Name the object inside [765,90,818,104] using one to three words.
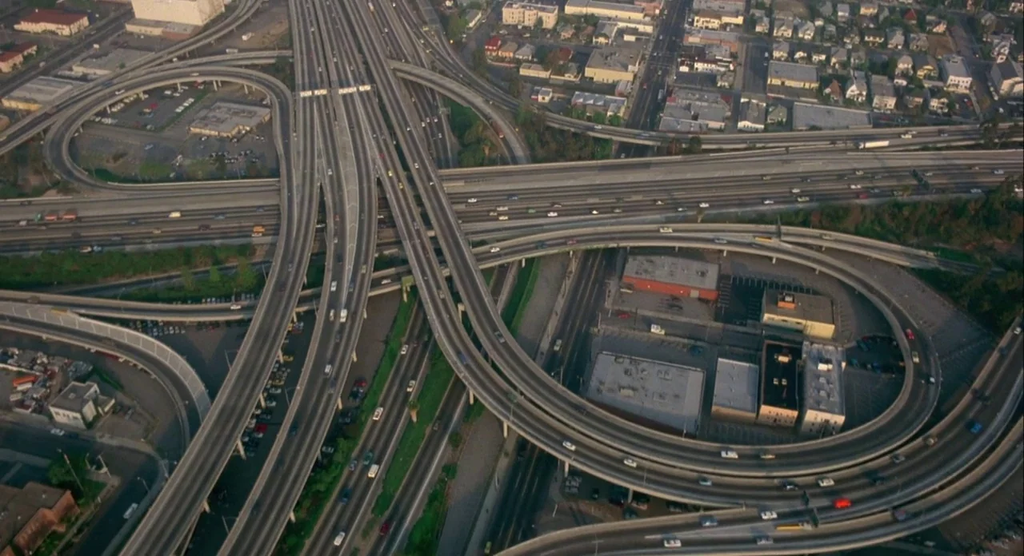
building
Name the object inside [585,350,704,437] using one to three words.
building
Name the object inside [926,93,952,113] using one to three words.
house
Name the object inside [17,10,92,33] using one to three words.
house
